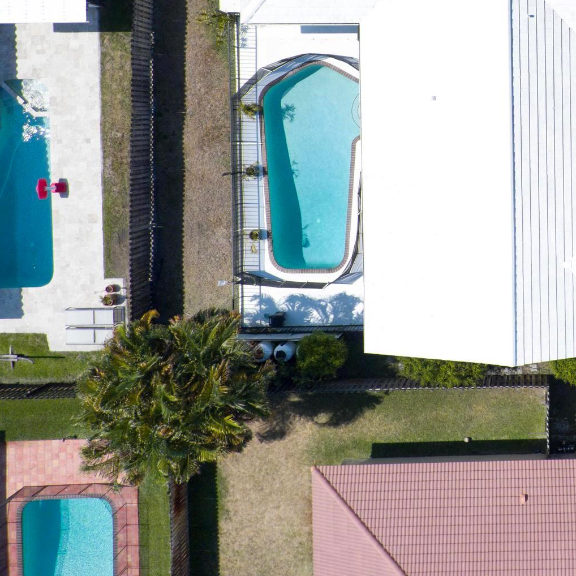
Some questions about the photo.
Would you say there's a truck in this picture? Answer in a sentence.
No, there's no truck here.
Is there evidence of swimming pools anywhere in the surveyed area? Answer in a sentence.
Yes, the frame does contain a swimming pool.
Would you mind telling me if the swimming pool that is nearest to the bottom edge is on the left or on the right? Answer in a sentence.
The swimming pool that is nearest to the bottom edge sits on the left side.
